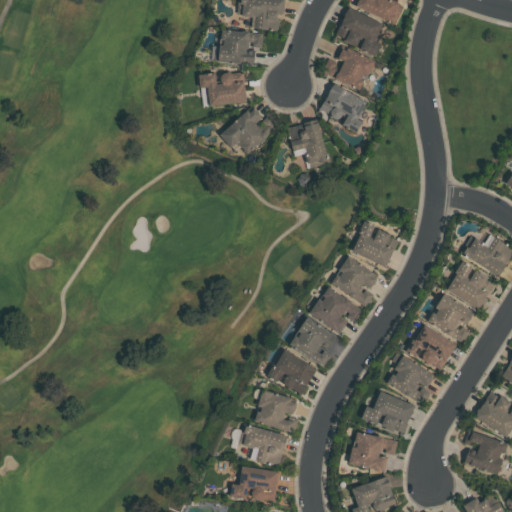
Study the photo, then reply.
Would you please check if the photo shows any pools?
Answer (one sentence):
Yes, the photo shows a pool.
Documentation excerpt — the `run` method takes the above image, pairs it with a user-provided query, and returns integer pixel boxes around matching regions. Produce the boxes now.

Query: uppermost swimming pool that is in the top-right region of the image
[372,76,386,94]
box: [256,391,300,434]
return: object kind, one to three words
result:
house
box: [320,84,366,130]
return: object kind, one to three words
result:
house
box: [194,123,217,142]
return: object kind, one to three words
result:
swimming pool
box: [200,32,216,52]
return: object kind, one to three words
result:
swimming pool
